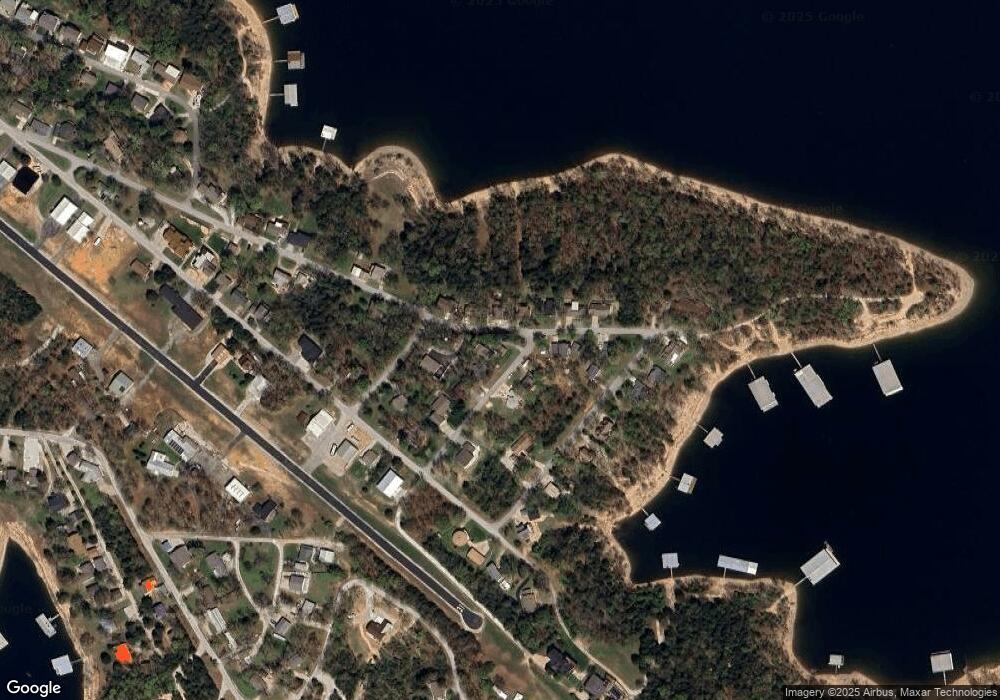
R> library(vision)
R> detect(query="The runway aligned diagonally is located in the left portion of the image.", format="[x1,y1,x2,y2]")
[0,220,482,630]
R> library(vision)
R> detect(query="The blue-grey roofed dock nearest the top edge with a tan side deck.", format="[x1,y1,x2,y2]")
[262,4,298,24]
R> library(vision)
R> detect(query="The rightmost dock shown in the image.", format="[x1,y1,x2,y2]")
[931,650,953,687]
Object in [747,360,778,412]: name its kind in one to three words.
pier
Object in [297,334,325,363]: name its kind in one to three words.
house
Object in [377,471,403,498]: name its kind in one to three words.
hangar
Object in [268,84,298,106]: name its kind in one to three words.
pier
